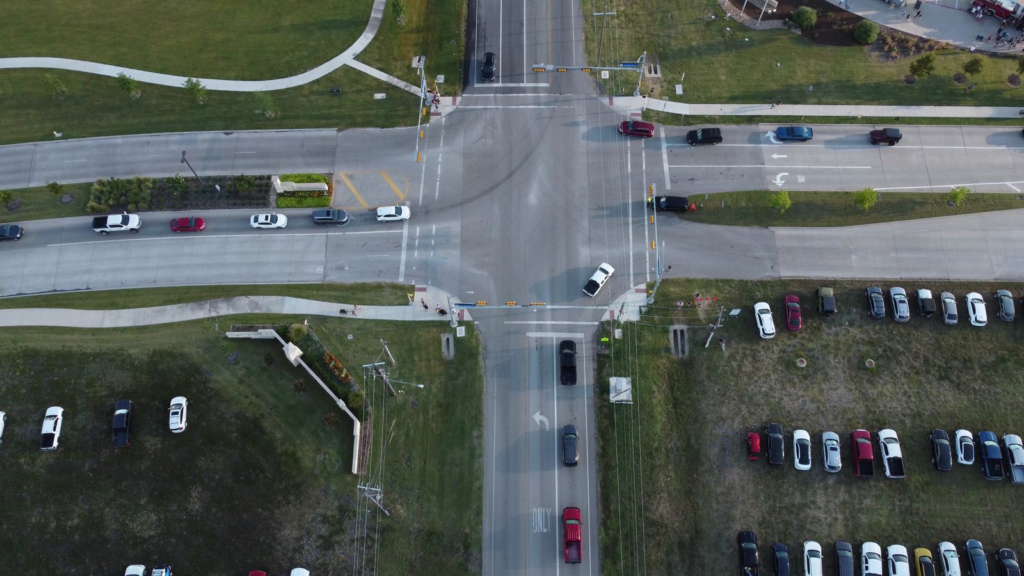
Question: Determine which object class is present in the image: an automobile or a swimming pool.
automobile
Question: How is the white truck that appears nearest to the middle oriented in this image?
diagonally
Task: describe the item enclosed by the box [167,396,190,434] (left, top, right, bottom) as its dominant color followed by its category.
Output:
white car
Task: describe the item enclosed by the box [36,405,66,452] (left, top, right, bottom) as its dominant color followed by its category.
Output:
white truck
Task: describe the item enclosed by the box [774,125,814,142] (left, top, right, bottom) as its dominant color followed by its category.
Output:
blue car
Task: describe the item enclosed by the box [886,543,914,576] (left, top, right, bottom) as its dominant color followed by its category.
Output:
white truck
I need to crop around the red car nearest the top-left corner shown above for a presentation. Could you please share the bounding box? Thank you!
[169,216,207,234]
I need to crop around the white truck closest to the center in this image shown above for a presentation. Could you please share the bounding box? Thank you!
[581,261,615,299]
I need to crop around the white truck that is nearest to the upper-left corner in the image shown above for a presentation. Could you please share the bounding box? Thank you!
[89,213,143,234]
